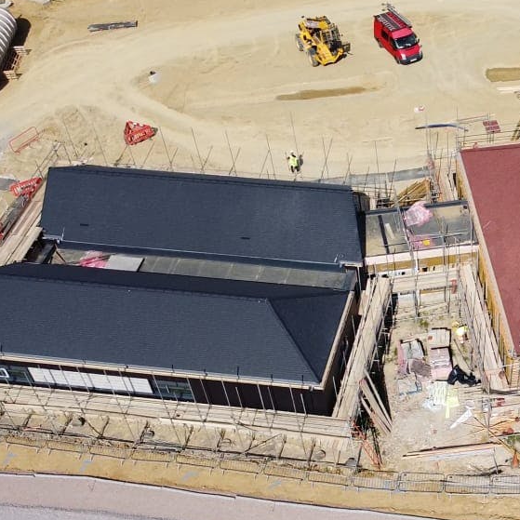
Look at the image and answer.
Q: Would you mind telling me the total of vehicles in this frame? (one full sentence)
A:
I count 2 vehicles.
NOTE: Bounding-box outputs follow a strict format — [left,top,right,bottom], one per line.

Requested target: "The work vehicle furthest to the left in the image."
[295,17,343,73]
